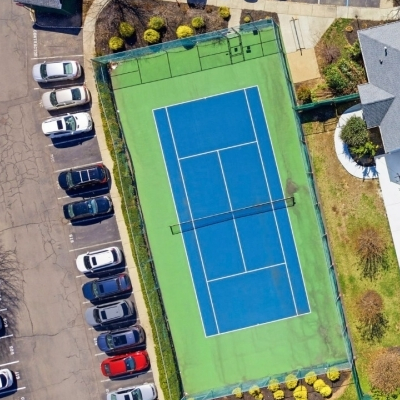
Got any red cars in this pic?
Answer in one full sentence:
Yes, a red car appears in the view.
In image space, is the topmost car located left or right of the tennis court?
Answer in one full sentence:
Relative to the tennis court, the topmost car is on the left.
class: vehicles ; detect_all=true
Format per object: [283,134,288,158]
[0,369,18,392]
[83,273,134,301]
[43,88,92,110]
[99,350,151,377]
[87,299,137,327]
[58,164,112,191]
[62,196,114,221]
[98,326,148,354]
[41,111,93,137]
[34,59,84,83]
[105,382,158,400]
[77,248,124,273]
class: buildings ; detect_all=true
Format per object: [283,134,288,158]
[357,20,400,153]
[12,0,79,16]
